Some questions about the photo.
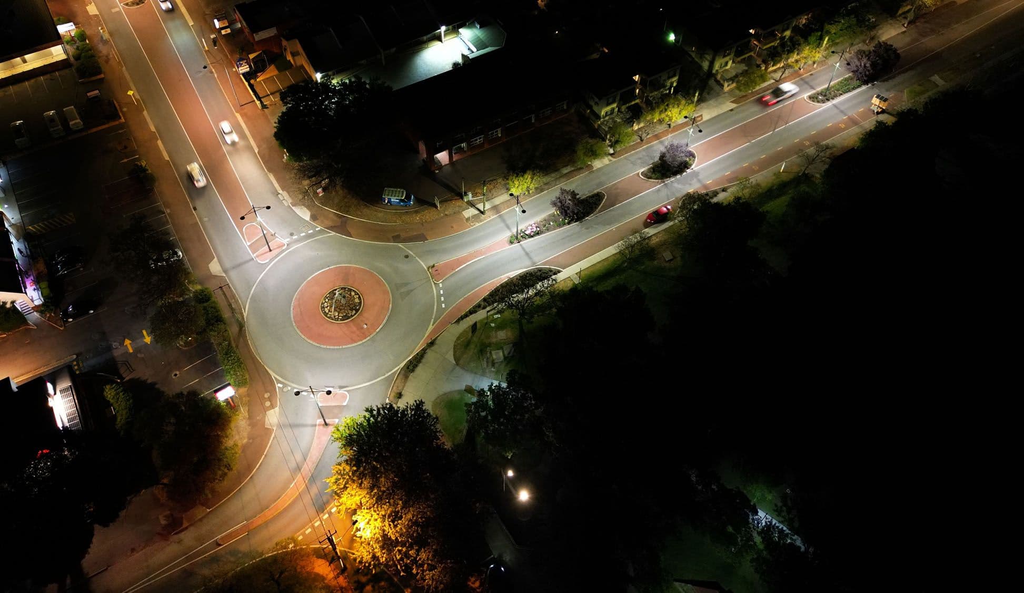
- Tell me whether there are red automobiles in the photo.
Yes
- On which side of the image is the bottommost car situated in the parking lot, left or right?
left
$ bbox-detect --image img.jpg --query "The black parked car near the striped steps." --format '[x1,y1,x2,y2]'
[62,301,97,323]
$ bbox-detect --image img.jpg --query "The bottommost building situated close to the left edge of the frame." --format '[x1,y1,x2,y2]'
[0,369,83,440]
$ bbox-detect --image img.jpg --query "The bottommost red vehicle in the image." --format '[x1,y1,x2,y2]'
[645,204,673,225]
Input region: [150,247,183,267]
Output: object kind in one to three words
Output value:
car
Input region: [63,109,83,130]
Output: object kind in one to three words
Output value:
car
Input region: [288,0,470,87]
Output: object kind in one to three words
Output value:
building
